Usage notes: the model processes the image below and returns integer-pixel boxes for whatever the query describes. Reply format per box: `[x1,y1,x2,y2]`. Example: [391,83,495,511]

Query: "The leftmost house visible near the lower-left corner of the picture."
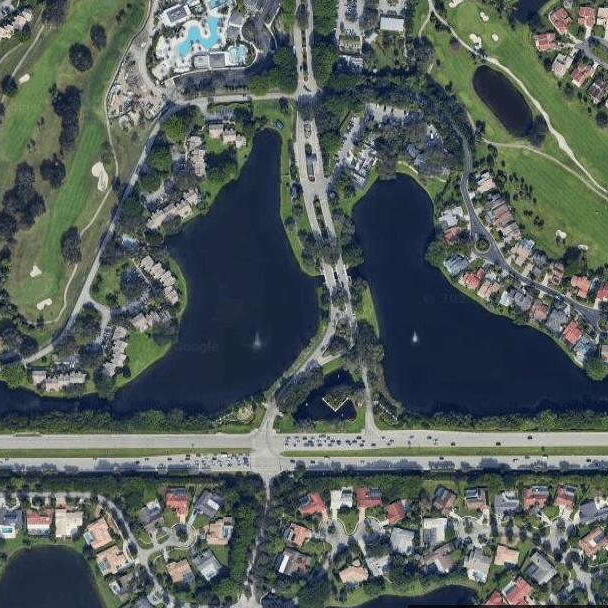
[0,505,22,528]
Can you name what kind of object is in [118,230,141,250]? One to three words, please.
swimming pool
